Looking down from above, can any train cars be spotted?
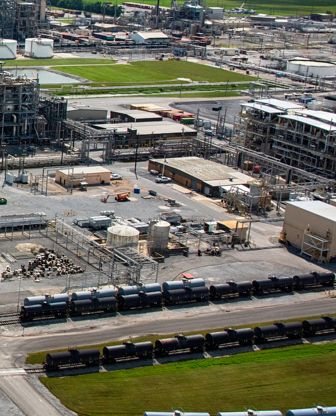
Yes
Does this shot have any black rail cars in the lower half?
Yes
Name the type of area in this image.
industrial area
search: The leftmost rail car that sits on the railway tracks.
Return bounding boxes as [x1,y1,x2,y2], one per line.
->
[16,293,71,320]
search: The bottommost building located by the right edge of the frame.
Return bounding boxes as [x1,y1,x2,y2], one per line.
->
[280,199,336,266]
